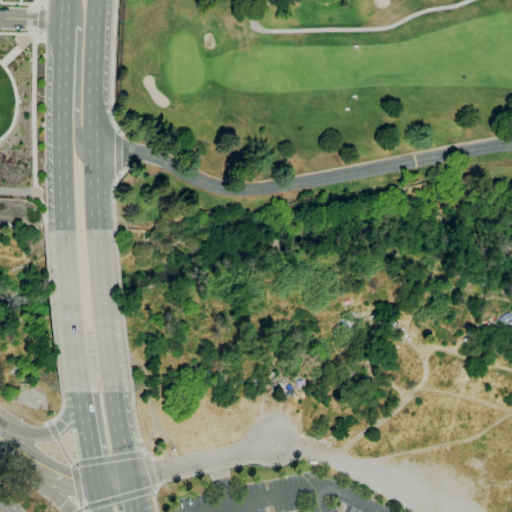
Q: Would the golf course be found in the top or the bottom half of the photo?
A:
top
